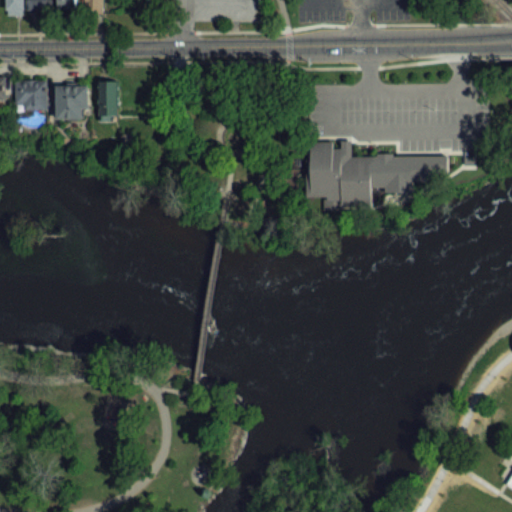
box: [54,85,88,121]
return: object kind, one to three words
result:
house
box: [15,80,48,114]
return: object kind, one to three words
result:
house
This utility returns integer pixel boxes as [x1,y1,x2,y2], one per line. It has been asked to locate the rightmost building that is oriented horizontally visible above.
[310,140,447,208]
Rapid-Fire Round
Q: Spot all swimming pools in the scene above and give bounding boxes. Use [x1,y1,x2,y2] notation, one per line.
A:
[18,114,46,128]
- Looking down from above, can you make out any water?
Yes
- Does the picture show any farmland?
No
